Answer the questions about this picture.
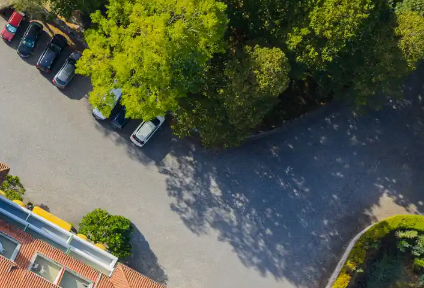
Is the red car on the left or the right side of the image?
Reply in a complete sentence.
It is on the left.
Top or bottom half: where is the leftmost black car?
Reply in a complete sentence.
You can find the leftmost black car in the top half.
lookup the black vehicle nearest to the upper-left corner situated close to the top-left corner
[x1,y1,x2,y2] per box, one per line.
[13,14,47,60]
